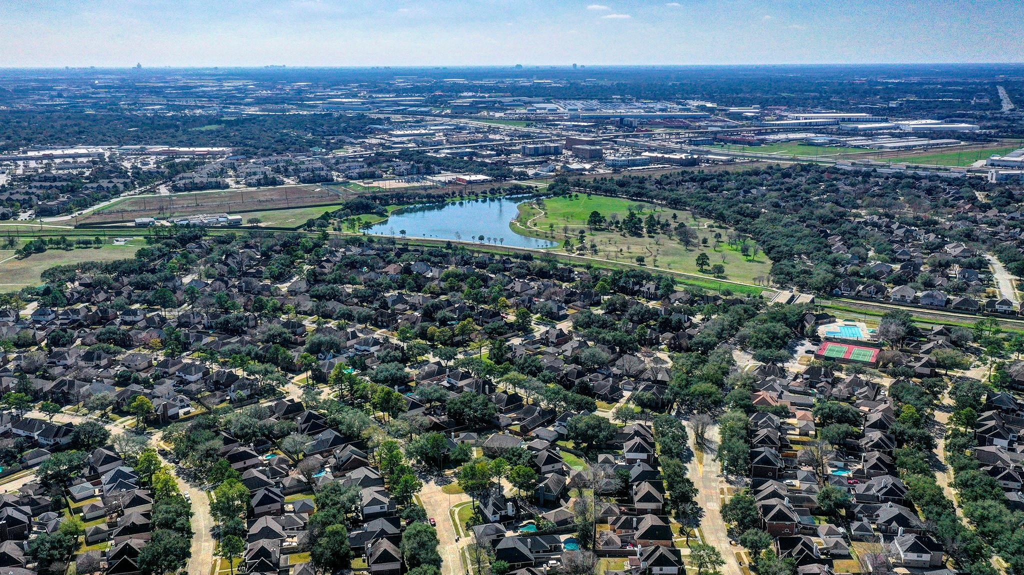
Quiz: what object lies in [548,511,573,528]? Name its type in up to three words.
building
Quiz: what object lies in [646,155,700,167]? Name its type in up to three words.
building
